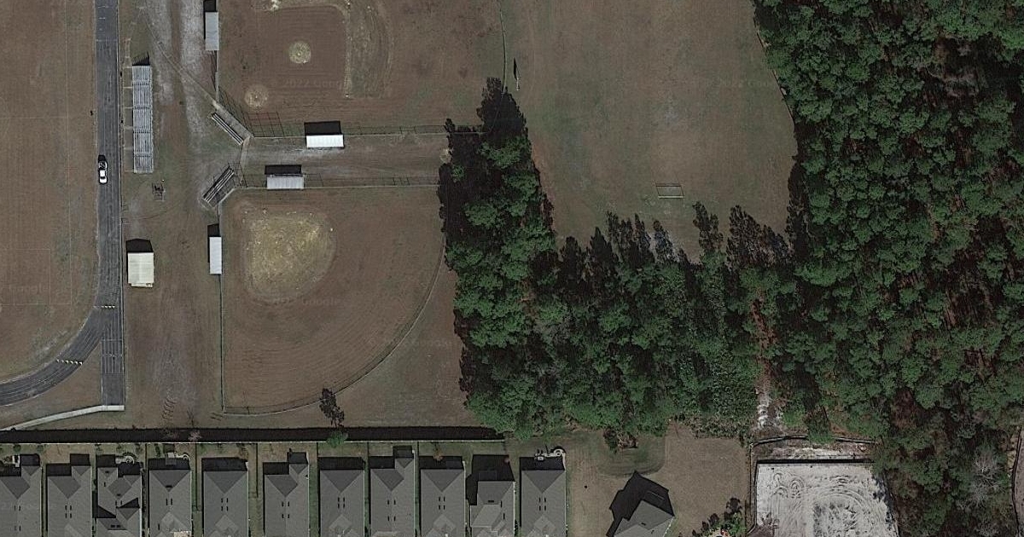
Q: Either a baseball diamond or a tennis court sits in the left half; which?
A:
baseball diamond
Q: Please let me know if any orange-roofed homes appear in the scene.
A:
No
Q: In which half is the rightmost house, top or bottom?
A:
bottom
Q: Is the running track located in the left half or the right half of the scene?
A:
left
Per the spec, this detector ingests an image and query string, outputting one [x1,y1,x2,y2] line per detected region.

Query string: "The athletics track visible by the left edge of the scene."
[0,0,125,406]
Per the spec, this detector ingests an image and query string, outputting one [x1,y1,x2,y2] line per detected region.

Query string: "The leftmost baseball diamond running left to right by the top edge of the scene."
[219,0,505,136]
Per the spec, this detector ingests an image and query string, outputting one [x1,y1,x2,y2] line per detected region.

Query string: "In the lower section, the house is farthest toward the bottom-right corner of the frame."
[617,493,675,537]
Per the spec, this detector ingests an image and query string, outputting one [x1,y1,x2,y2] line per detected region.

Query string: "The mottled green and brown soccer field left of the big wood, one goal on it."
[509,0,793,245]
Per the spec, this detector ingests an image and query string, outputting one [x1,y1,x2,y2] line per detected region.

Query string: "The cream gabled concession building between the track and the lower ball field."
[127,252,153,288]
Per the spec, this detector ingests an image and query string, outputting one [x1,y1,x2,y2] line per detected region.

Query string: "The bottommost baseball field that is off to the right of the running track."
[224,186,444,414]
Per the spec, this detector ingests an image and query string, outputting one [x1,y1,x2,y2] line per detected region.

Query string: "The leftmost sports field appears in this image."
[0,0,97,381]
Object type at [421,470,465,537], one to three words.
house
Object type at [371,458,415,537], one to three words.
house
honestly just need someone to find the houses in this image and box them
[521,471,566,537]
[263,464,308,537]
[470,482,515,537]
[96,468,141,537]
[149,470,191,537]
[617,493,675,537]
[46,467,92,537]
[320,470,364,537]
[0,467,41,537]
[421,470,465,537]
[371,458,415,537]
[202,471,248,537]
